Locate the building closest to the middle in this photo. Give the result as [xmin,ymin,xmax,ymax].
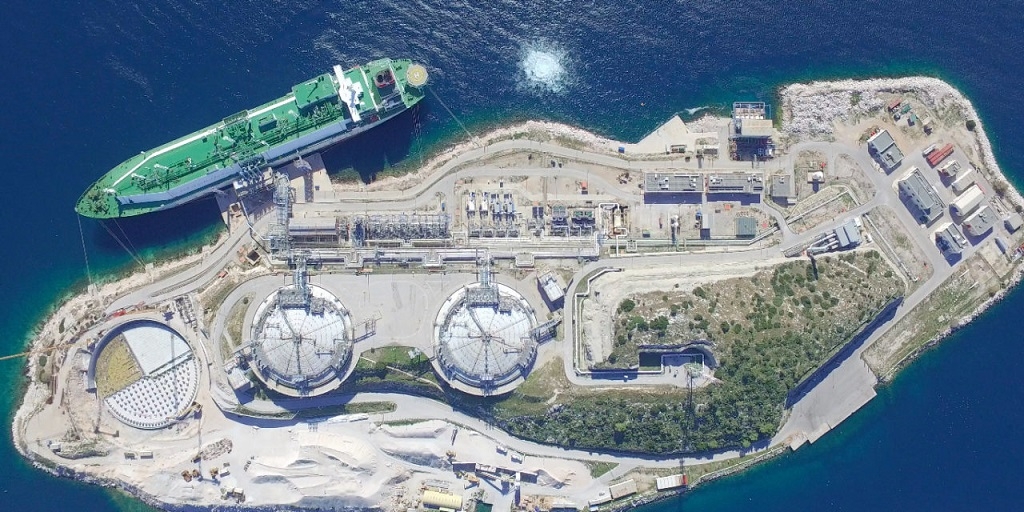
[538,271,565,302]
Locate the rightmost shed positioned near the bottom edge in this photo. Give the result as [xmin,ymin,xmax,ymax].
[655,473,689,490]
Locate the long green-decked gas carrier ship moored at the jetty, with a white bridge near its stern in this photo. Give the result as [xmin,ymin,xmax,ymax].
[73,57,429,217]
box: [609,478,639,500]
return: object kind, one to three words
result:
shed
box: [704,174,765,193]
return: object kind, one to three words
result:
building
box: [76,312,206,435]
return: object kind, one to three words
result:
storage tank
